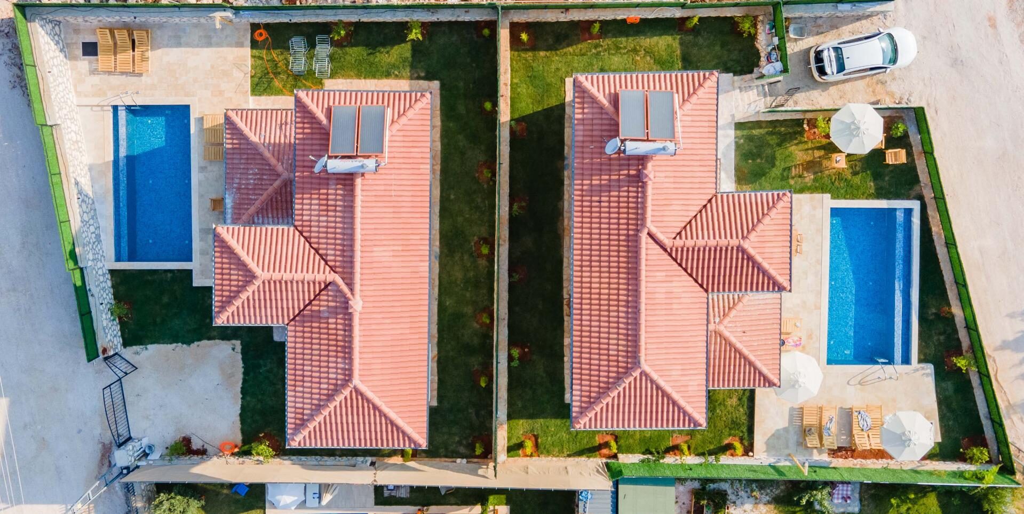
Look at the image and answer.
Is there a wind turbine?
No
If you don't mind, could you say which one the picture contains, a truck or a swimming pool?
swimming pool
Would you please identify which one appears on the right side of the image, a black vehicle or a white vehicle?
white vehicle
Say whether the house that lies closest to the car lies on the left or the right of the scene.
right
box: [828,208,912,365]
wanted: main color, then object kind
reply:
blue swimming pool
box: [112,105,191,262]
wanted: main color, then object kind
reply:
blue swimming pool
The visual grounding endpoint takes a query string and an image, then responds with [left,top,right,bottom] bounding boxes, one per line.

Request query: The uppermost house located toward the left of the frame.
[209,87,432,452]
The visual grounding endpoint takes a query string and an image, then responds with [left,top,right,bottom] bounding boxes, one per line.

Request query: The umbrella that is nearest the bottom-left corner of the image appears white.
[266,483,303,514]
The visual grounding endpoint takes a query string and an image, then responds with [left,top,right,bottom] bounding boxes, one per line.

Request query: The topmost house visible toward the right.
[569,69,796,433]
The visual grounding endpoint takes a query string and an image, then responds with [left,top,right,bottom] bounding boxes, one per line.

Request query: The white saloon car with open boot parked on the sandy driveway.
[809,24,915,79]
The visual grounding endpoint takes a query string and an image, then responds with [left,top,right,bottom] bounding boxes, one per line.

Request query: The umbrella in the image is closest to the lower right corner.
[879,411,933,460]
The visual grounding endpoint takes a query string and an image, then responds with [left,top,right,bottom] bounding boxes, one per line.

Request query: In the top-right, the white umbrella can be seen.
[832,103,882,153]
